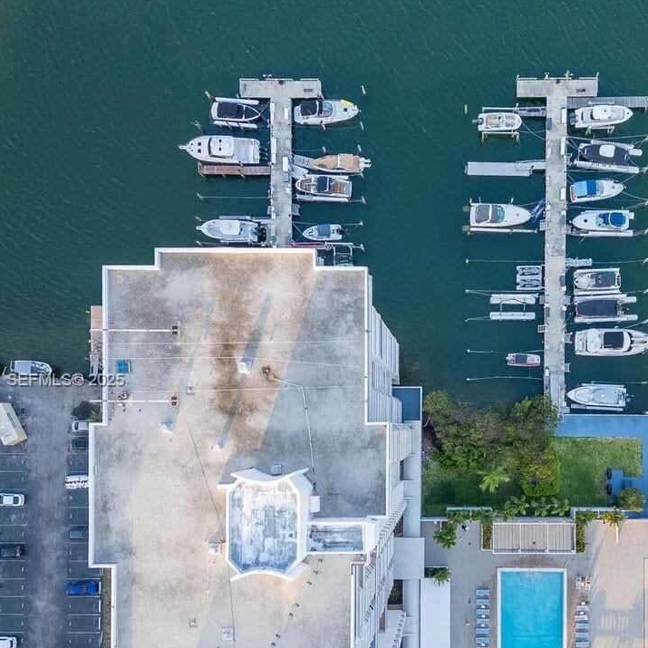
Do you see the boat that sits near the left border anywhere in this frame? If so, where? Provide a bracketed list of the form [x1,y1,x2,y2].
[12,358,55,376]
